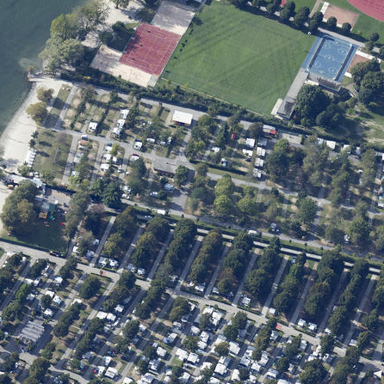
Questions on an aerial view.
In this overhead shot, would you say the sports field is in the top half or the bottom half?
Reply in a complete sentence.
The sports field is in the top half of the image.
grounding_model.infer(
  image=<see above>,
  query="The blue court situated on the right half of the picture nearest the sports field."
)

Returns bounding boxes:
[301,34,359,83]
